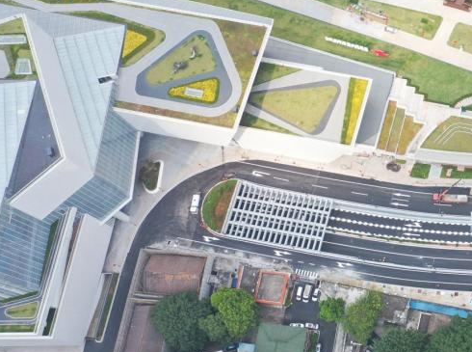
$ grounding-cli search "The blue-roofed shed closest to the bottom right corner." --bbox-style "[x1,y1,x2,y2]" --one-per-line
[410,300,472,320]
